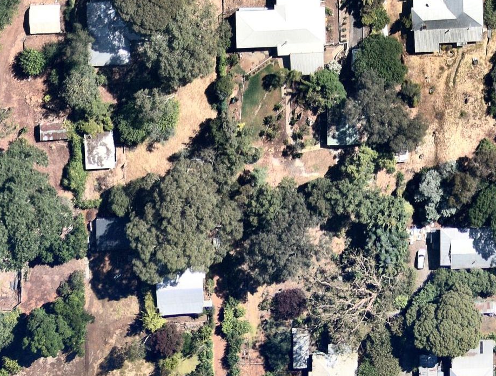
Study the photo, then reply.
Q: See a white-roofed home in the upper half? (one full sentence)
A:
Yes, there is a white-roofed home in the upper half.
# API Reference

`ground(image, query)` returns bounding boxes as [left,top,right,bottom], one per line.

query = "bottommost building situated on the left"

[157,269,213,316]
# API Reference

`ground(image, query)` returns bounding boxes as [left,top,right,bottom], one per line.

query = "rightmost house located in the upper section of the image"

[411,0,483,54]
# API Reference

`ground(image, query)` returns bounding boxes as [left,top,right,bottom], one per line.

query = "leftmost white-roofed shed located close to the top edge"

[29,2,61,34]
